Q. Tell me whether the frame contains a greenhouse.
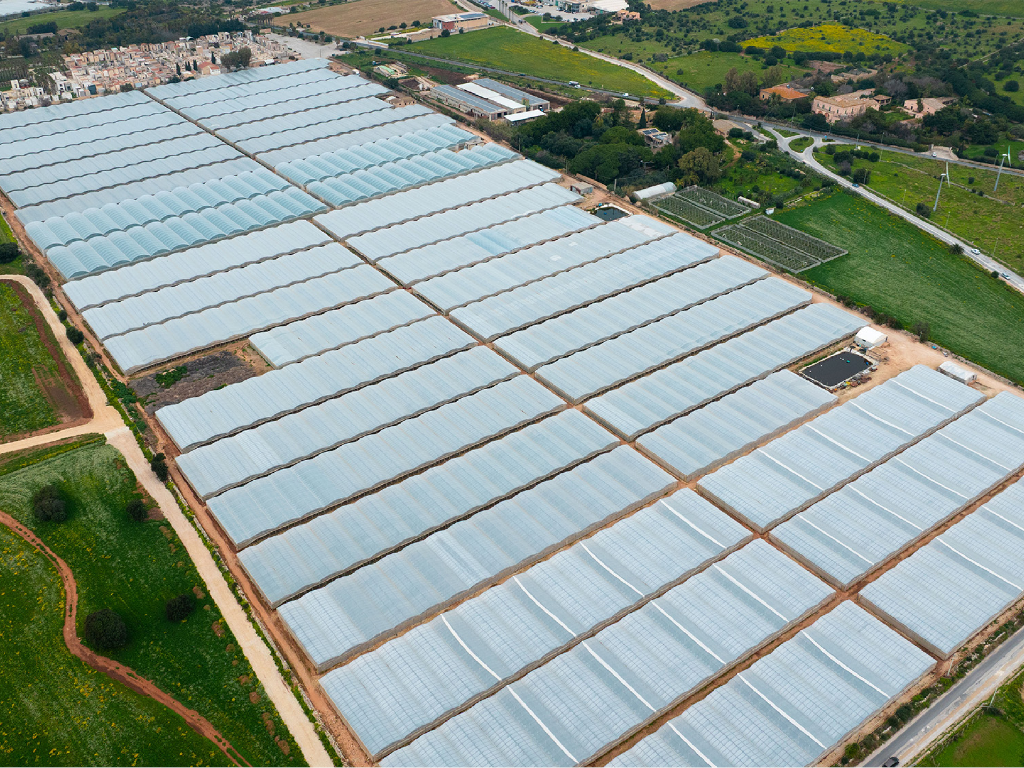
Yes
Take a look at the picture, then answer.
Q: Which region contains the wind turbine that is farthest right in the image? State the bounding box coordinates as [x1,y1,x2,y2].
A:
[992,141,1013,191]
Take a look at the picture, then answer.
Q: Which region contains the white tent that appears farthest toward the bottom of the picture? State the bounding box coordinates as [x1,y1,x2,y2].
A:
[854,327,885,348]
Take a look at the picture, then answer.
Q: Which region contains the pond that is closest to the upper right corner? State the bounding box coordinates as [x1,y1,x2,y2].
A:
[798,349,876,387]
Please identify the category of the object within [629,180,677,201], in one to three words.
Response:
greenhouse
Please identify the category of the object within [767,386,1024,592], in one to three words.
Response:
greenhouse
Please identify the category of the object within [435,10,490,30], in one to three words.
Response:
building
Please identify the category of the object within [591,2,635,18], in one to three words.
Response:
building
